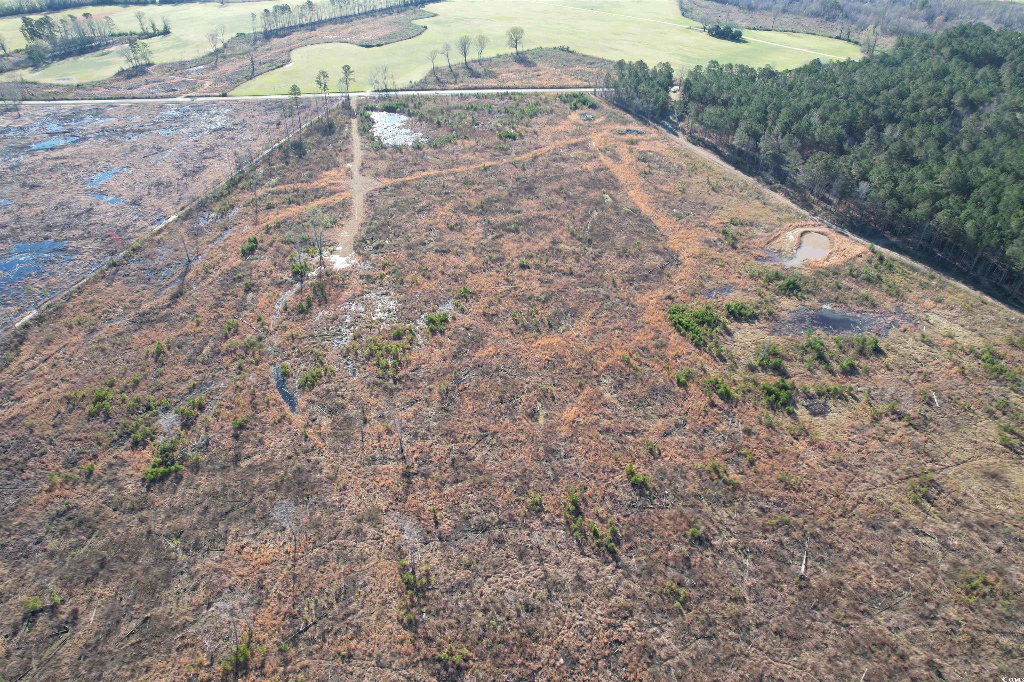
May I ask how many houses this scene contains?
none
